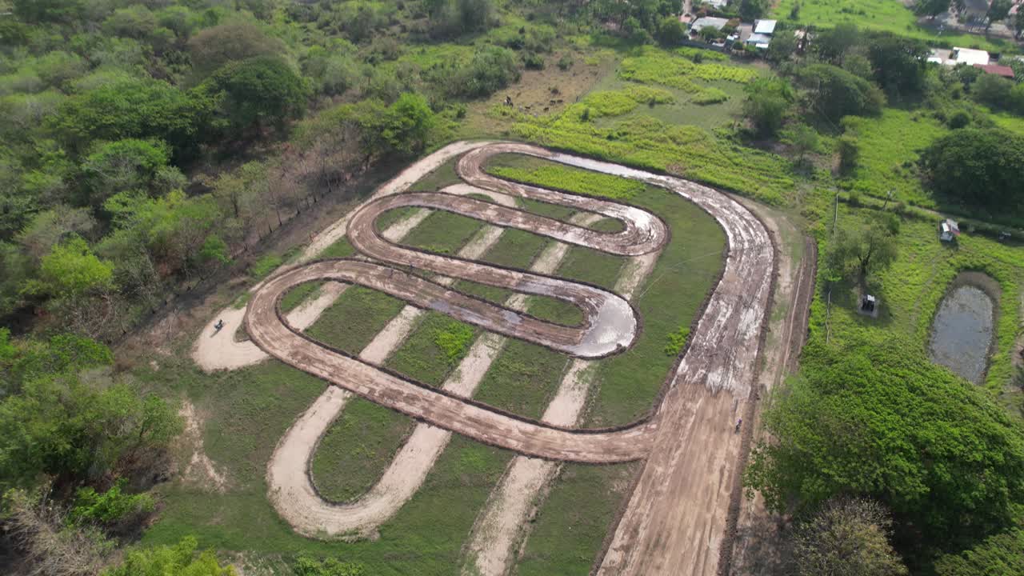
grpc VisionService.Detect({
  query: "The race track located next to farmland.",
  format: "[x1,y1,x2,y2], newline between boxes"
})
[246,143,775,576]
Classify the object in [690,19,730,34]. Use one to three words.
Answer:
house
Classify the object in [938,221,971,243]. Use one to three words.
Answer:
shed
